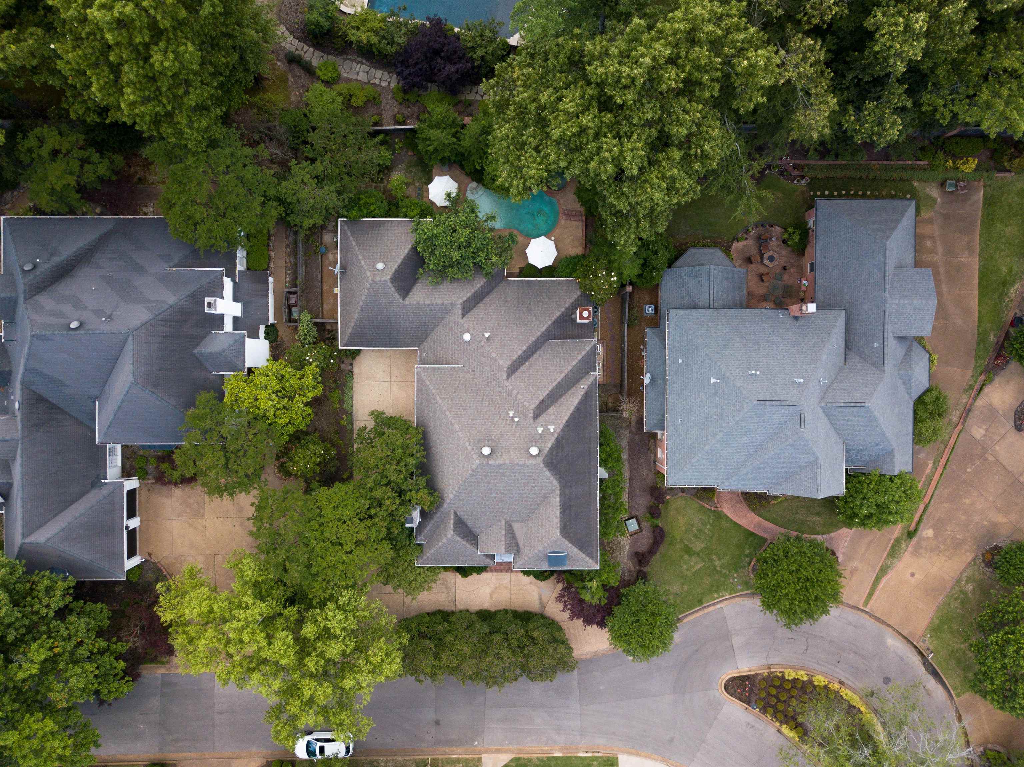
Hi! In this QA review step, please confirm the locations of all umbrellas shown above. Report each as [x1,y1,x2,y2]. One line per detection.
[428,175,458,204]
[525,236,558,268]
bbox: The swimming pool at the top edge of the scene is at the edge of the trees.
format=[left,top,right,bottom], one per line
[364,0,519,44]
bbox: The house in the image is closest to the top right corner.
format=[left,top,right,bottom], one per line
[642,198,937,499]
